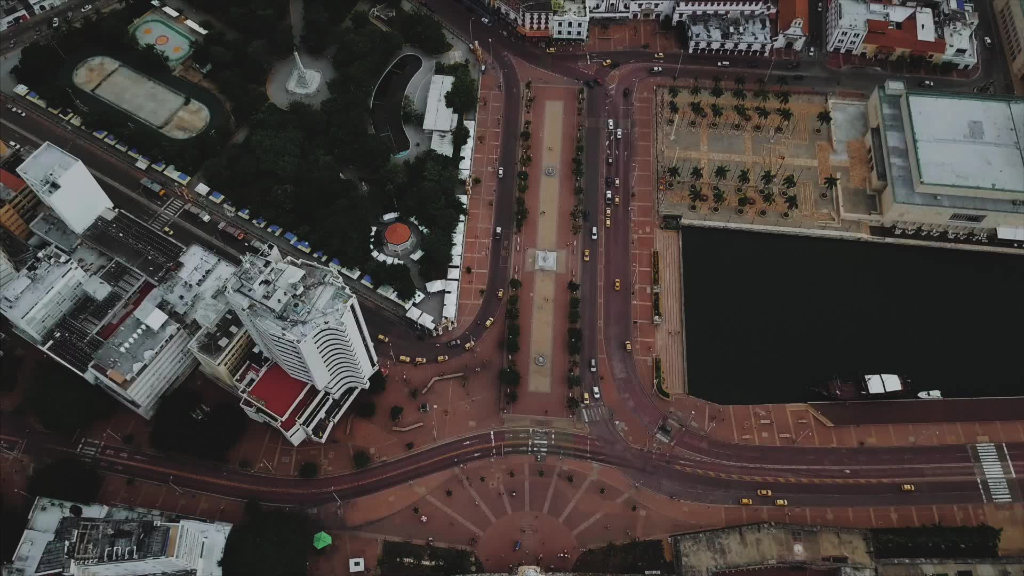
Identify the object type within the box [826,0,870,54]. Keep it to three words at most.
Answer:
building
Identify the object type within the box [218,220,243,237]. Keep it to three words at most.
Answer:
vehicle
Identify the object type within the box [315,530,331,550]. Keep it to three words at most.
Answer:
umbrella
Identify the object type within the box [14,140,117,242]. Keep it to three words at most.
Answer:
building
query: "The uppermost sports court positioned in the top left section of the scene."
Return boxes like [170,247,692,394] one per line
[127,8,199,68]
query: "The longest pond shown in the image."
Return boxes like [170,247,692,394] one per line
[370,53,423,157]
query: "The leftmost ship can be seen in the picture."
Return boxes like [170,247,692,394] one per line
[817,373,915,400]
